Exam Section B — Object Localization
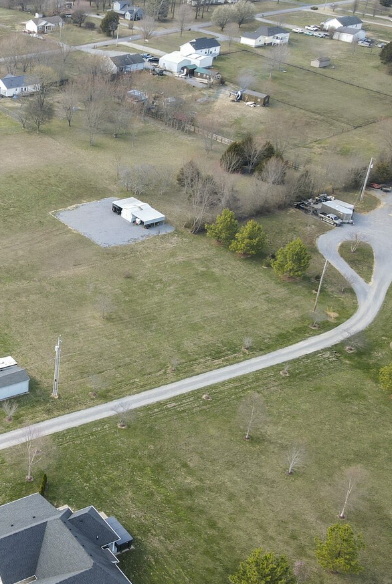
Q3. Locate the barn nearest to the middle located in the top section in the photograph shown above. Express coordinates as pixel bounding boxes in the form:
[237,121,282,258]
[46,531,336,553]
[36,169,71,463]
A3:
[109,197,166,230]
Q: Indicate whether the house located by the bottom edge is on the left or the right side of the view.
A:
left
